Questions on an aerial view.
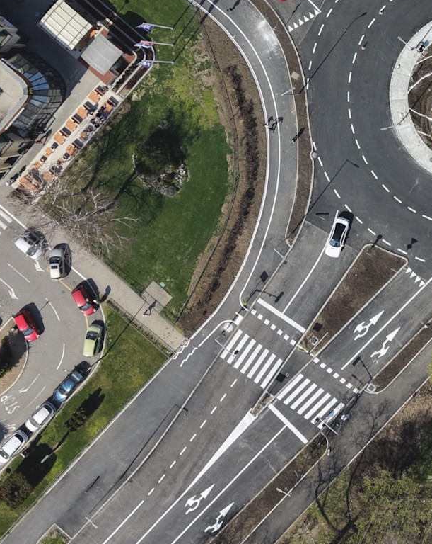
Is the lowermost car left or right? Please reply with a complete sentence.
You can find the lowermost car on the left side of the picture.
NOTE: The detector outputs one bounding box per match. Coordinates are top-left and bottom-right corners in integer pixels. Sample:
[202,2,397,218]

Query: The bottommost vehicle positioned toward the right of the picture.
[326,215,351,258]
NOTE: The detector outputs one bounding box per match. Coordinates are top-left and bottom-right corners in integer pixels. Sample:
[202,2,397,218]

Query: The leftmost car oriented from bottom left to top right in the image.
[0,426,31,463]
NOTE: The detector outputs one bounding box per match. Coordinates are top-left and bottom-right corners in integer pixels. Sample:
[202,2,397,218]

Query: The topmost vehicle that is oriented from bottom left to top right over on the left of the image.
[51,367,89,406]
